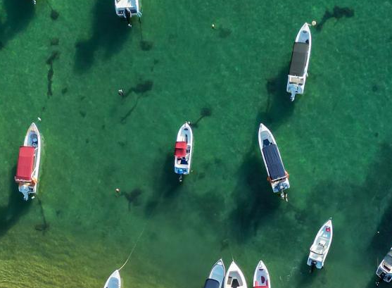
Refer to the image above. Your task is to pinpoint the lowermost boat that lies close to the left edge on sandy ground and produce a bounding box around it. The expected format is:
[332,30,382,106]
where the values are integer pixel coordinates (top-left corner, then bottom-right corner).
[16,122,41,203]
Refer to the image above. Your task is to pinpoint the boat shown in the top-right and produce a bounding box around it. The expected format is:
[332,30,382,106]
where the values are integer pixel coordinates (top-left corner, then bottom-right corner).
[287,21,311,104]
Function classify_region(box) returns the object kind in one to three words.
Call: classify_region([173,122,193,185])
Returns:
boat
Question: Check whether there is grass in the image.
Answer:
No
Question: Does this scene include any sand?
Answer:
Yes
